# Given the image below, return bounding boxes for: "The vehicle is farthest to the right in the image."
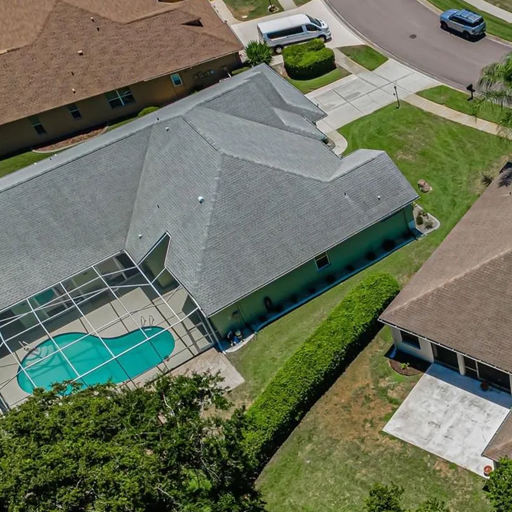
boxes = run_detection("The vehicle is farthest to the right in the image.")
[435,7,486,39]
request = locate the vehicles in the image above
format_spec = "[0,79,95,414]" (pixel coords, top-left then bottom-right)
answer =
[435,7,486,39]
[255,10,333,53]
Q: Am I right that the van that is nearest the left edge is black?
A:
No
